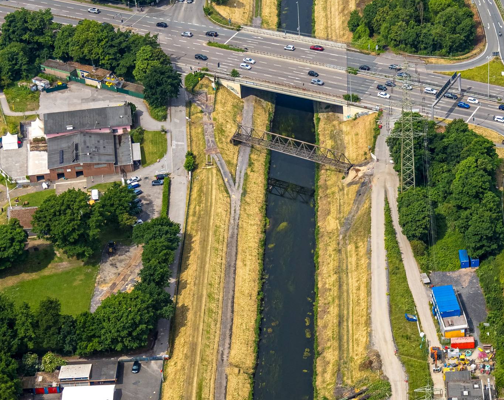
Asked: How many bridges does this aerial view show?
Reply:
2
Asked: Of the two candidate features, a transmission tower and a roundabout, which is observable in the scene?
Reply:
transmission tower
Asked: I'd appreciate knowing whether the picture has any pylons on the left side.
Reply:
No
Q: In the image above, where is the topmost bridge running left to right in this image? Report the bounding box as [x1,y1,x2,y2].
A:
[204,23,379,119]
